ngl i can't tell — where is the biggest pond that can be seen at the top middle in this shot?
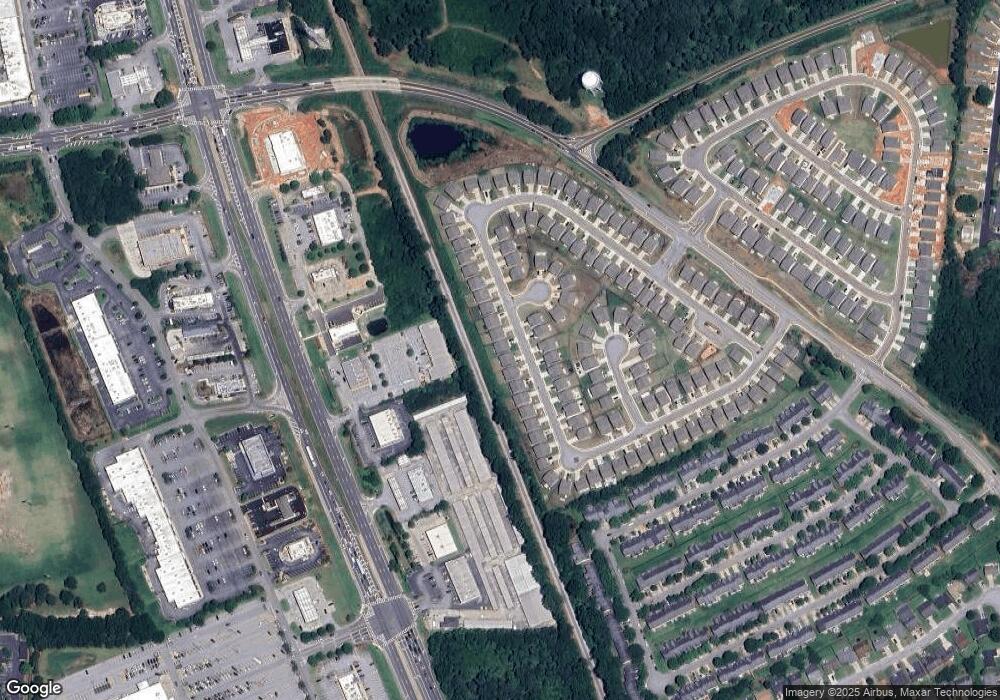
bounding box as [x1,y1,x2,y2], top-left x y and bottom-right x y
[408,121,463,159]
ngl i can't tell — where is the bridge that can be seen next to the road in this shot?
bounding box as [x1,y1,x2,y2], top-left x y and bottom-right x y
[332,75,403,94]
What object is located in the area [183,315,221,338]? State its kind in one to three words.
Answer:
building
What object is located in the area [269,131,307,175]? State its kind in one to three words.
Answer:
building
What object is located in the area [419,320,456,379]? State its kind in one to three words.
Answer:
shed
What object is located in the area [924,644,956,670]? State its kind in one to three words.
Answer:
house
